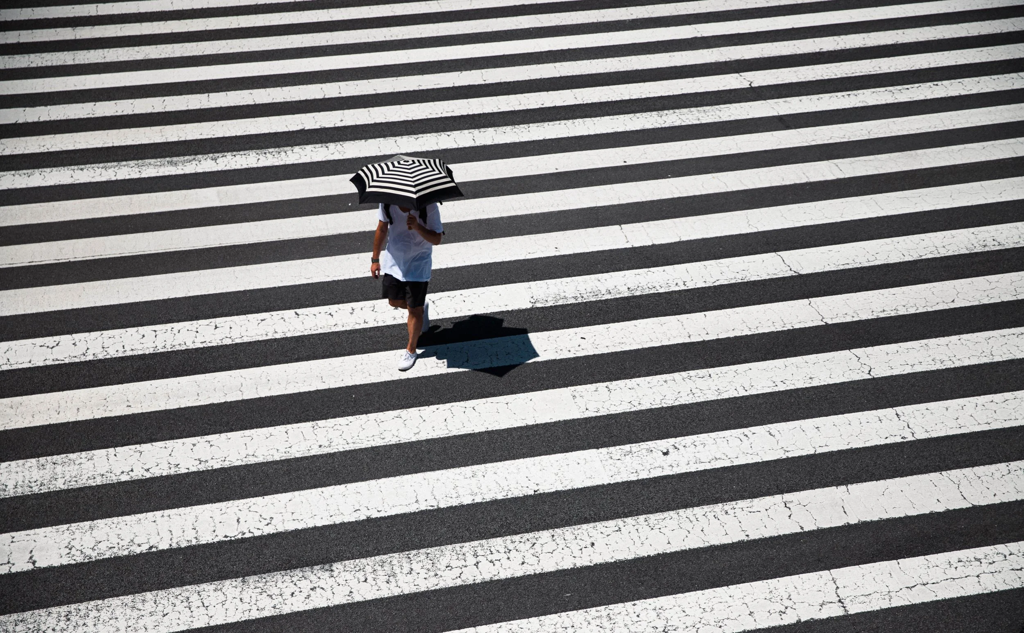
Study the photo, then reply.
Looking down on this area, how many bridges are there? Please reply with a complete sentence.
There are no bridges in the image.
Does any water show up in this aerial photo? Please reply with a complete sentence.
No, water can't be seen anywhere here.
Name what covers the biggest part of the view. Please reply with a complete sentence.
Most of the picture is covered by paved ground.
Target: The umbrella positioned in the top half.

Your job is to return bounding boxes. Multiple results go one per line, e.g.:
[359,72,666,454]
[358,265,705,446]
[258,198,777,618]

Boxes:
[349,157,465,229]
